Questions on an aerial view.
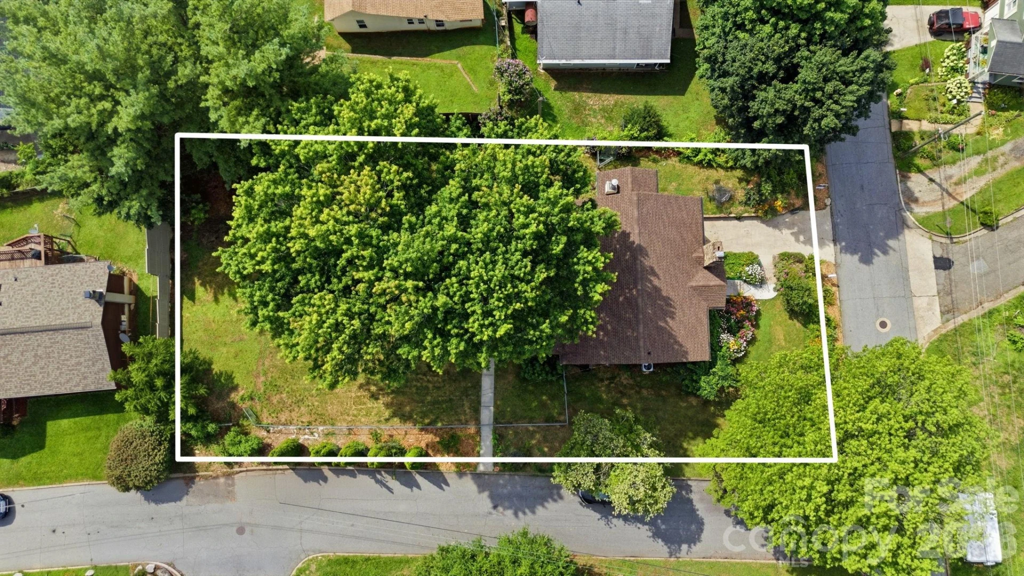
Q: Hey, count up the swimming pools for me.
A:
none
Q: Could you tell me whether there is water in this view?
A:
No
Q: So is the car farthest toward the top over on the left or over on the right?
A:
right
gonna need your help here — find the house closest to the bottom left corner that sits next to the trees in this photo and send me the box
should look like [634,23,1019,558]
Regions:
[0,260,135,424]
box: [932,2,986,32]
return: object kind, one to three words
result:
car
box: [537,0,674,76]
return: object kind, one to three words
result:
house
